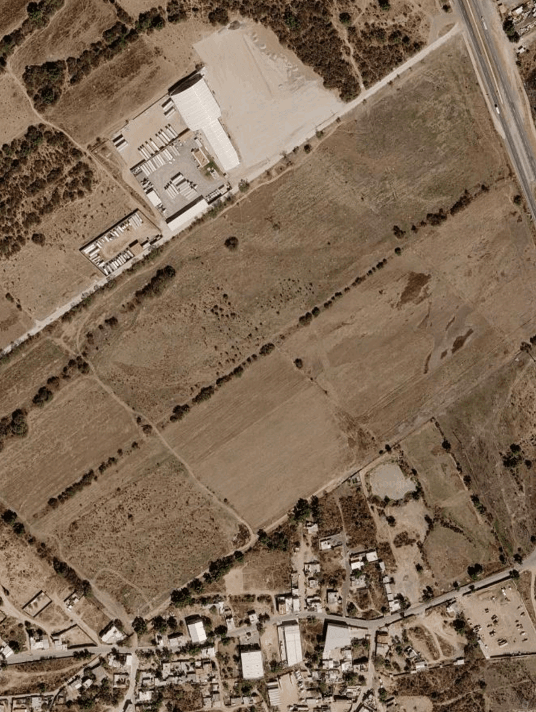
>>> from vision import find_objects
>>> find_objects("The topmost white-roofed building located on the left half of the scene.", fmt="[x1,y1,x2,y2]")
[171,75,220,128]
